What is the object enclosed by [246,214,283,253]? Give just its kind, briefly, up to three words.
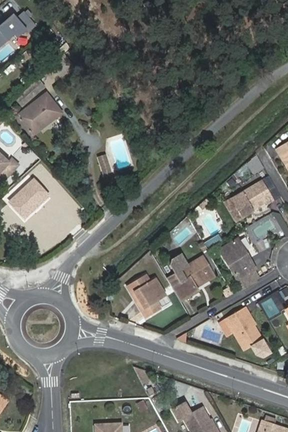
swimming pool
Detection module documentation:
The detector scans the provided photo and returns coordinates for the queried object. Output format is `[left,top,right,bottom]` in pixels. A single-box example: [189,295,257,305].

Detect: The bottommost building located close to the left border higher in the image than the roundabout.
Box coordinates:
[8,178,48,219]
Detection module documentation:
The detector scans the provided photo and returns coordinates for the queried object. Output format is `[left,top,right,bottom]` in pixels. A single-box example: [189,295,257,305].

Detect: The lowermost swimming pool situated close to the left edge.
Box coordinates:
[0,123,38,174]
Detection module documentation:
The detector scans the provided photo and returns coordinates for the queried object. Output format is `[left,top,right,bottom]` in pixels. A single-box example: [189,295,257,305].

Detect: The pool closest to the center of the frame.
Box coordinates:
[169,217,195,248]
